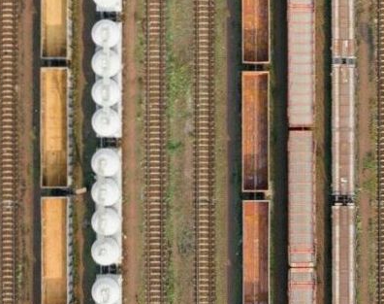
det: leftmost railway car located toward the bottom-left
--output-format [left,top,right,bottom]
[41,193,73,304]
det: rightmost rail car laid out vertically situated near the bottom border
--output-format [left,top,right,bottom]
[330,199,356,304]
